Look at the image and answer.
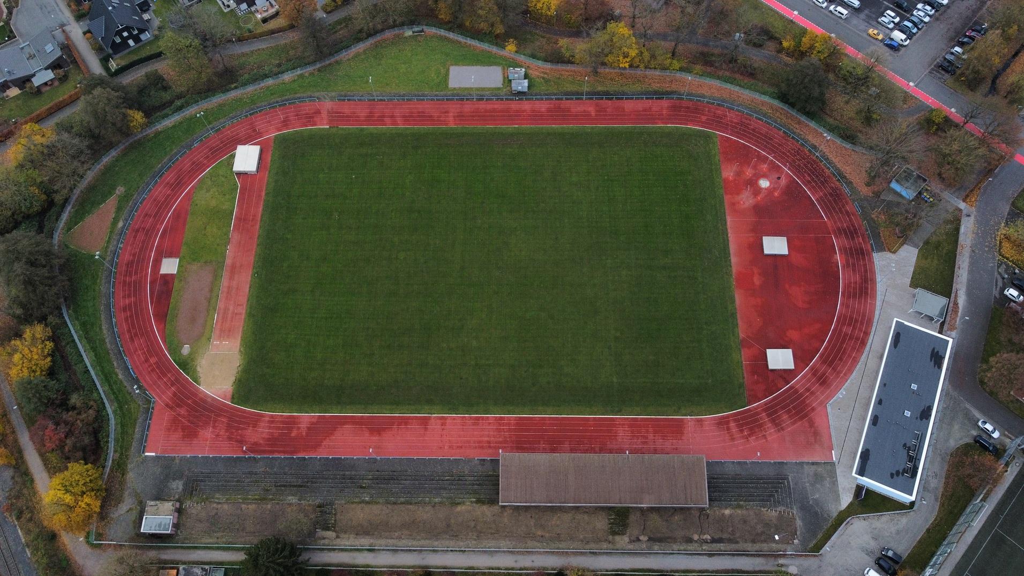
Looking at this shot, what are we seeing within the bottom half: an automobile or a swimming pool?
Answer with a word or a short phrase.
automobile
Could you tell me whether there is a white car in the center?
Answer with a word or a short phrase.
No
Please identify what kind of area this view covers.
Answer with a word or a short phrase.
sports ground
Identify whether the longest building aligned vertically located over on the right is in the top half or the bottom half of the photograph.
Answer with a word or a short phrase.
bottom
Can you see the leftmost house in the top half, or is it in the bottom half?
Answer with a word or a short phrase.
top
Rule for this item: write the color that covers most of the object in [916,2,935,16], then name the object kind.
white car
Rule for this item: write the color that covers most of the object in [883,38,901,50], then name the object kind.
blue vehicle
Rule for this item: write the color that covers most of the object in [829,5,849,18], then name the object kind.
white vehicle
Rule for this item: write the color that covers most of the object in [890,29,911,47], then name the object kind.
white vehicle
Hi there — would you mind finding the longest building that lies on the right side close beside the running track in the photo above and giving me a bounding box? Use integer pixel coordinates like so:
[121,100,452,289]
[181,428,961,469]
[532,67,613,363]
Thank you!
[852,319,953,504]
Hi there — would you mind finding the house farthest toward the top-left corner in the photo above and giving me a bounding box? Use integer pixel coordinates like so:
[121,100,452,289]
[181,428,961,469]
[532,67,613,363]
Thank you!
[0,30,68,99]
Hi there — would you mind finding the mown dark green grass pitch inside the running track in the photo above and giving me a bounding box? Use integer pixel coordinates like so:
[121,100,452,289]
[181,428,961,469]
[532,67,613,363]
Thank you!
[232,126,747,416]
